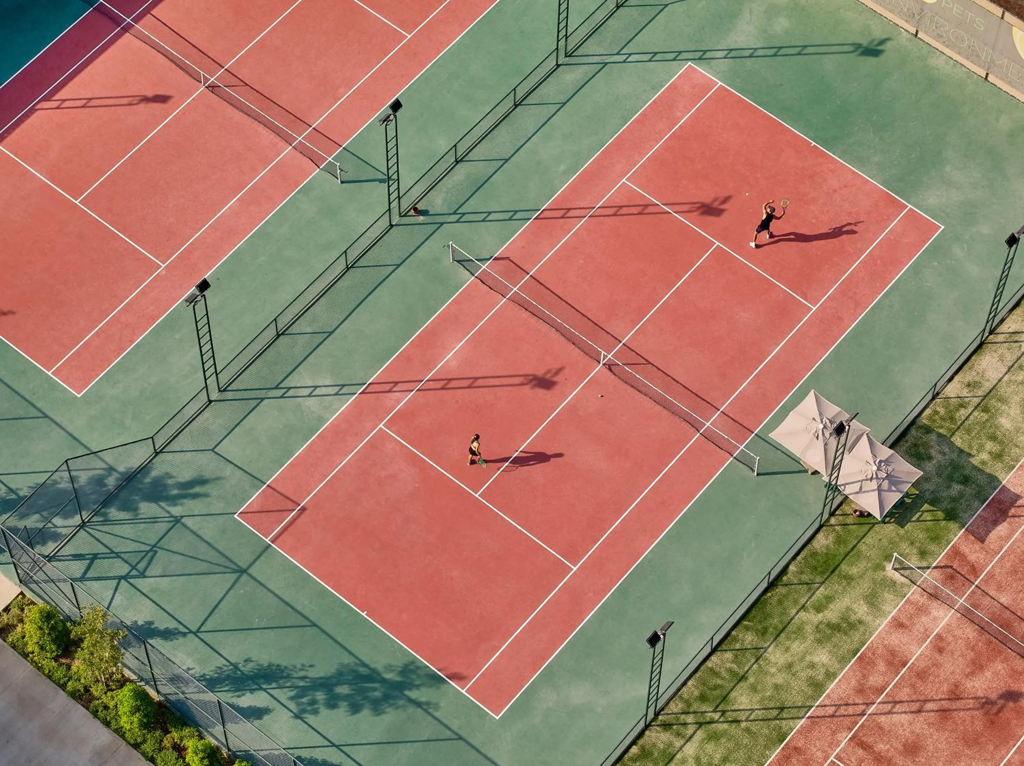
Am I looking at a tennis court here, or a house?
tennis court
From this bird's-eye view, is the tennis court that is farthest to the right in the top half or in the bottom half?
bottom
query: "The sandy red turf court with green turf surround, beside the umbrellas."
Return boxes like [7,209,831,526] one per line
[618,301,1024,766]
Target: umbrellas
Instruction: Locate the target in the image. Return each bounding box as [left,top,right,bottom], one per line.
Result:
[823,433,922,521]
[770,390,869,477]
